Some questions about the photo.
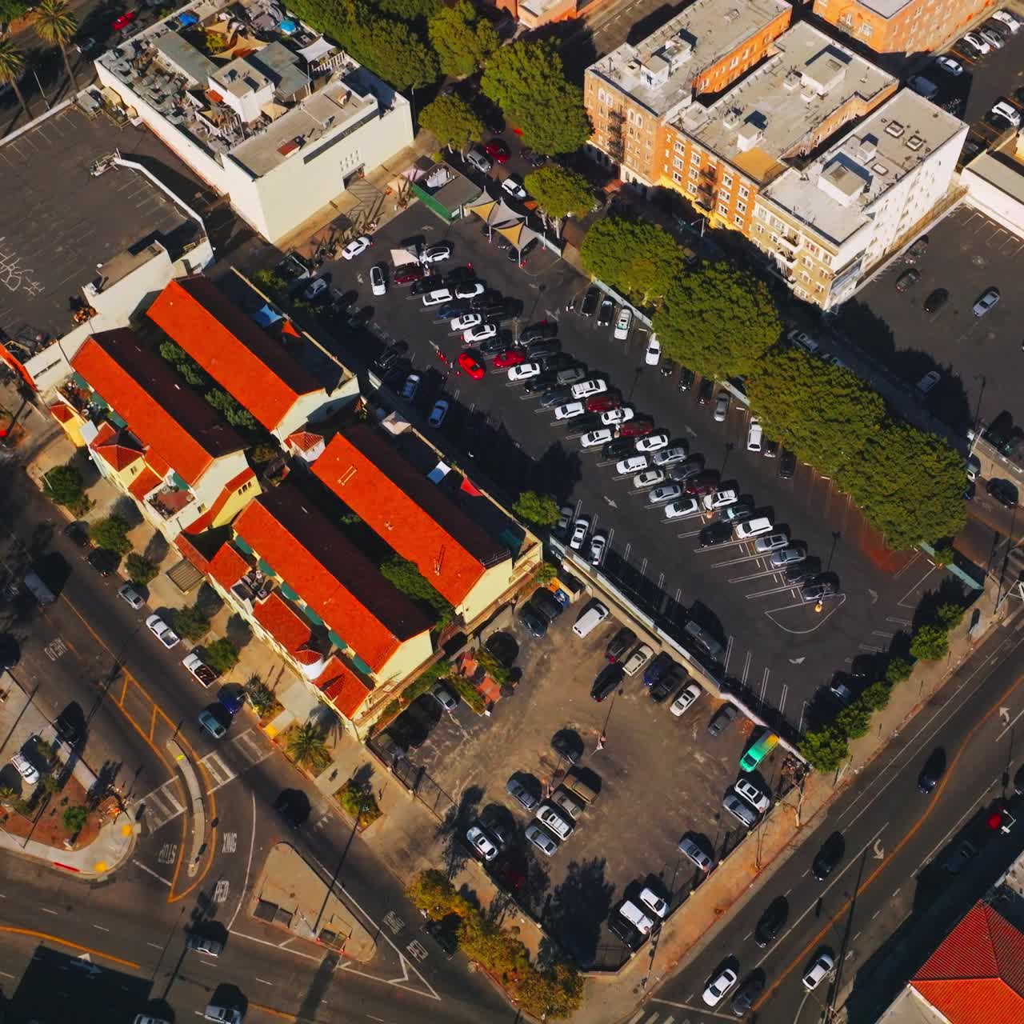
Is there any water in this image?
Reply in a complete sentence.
No, the picture contains no water.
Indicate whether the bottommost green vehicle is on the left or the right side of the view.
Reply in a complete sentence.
It is on the right.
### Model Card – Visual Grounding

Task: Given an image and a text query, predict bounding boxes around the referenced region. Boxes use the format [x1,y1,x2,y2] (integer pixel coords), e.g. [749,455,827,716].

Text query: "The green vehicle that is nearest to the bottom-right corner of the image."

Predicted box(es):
[742,732,777,772]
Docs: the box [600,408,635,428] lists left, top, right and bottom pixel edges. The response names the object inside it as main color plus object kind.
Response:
white car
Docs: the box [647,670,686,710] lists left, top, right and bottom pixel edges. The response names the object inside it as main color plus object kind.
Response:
black vehicle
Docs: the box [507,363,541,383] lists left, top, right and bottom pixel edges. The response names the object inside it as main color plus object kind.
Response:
white car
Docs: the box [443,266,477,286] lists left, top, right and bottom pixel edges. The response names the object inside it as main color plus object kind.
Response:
black car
